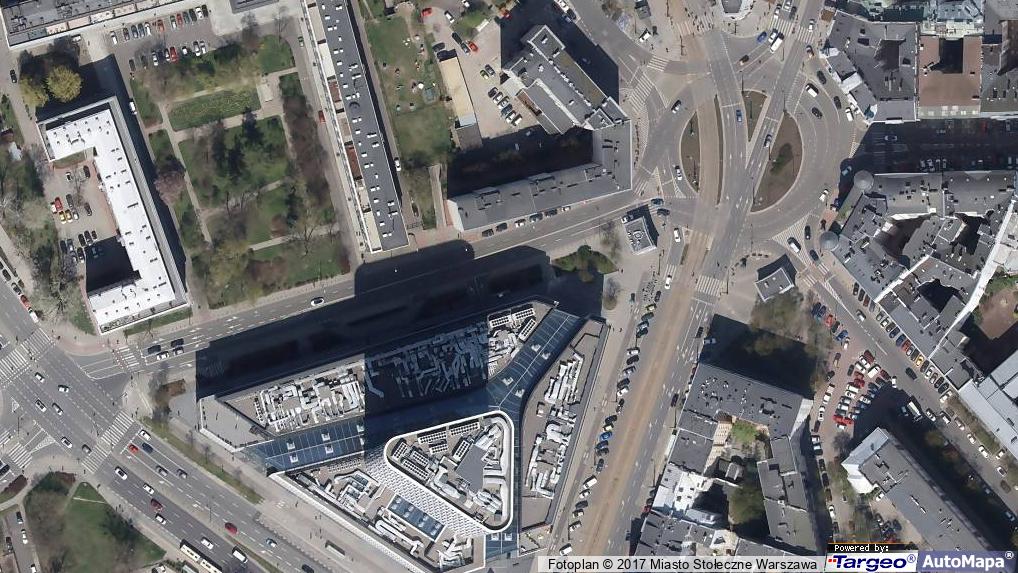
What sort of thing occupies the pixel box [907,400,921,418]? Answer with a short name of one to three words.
vehicle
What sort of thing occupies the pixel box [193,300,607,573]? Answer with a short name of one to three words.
building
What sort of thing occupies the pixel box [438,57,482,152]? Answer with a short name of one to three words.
shed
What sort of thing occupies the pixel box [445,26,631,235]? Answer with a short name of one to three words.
building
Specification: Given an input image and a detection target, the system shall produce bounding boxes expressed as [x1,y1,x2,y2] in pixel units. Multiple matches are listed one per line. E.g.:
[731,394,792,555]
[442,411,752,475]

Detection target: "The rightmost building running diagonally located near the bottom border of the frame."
[833,428,1018,573]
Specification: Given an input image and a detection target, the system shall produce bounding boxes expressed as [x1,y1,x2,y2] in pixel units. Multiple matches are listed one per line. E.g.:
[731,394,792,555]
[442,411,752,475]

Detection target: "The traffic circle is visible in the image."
[632,38,862,256]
